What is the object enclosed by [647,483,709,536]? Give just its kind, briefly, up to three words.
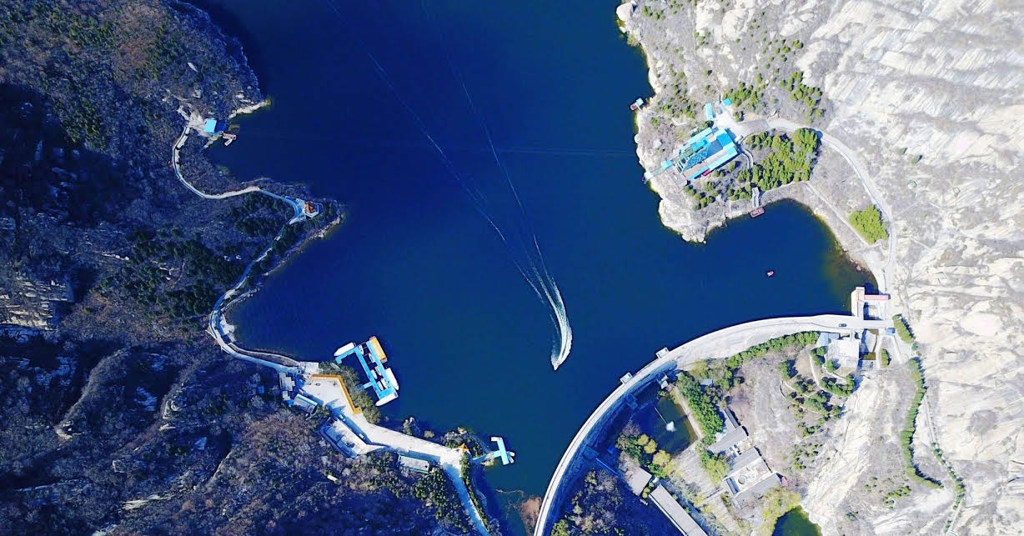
building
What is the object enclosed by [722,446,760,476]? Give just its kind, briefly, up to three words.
house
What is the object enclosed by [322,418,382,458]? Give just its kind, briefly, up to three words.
building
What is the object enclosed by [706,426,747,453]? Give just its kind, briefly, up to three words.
house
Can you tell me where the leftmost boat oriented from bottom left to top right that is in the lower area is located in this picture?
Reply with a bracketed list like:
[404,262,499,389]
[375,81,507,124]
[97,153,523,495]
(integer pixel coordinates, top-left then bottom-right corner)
[334,342,355,356]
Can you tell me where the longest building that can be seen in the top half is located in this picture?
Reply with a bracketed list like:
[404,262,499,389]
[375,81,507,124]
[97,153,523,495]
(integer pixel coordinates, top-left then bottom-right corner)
[676,128,744,180]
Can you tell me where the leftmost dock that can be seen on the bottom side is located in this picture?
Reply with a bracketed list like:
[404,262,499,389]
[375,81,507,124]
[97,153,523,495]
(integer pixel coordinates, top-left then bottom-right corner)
[336,341,398,400]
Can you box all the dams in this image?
[534,314,856,536]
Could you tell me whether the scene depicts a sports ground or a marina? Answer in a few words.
marina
